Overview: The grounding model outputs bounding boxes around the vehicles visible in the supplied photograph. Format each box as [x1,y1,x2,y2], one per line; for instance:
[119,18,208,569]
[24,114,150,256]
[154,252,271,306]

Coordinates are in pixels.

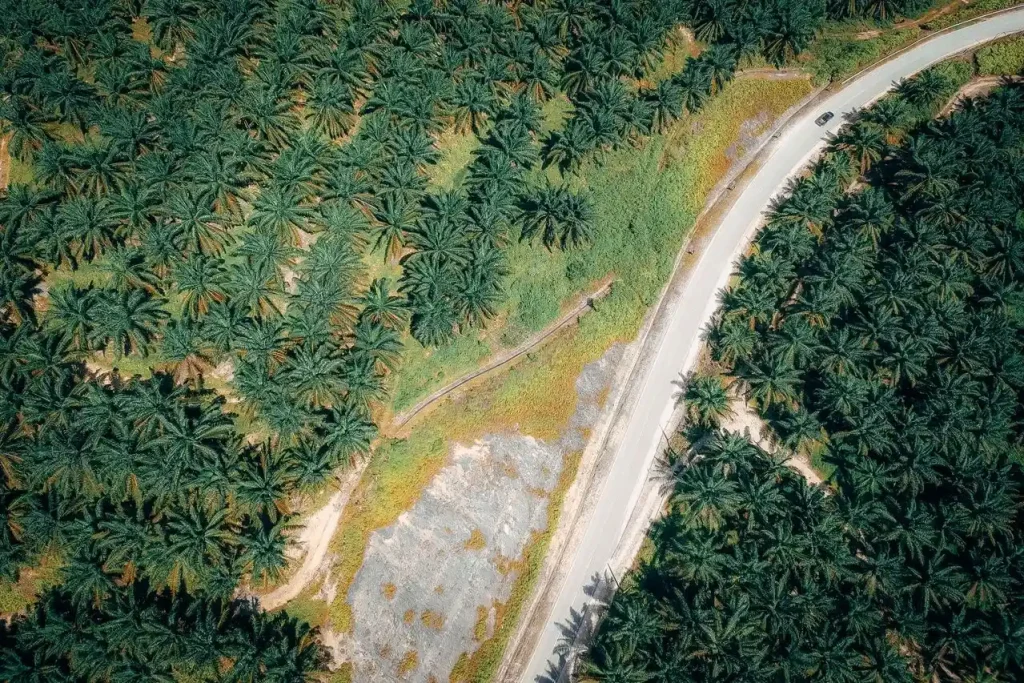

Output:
[817,109,836,126]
